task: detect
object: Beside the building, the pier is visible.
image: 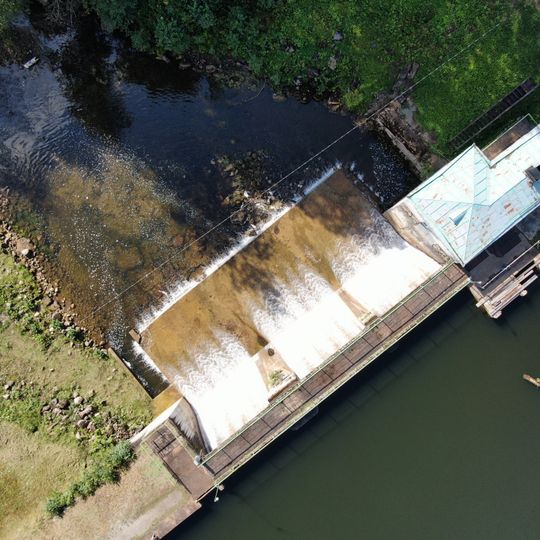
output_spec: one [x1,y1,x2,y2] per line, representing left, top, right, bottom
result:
[459,237,540,321]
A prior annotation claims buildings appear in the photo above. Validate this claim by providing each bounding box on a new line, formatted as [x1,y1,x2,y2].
[382,121,540,285]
